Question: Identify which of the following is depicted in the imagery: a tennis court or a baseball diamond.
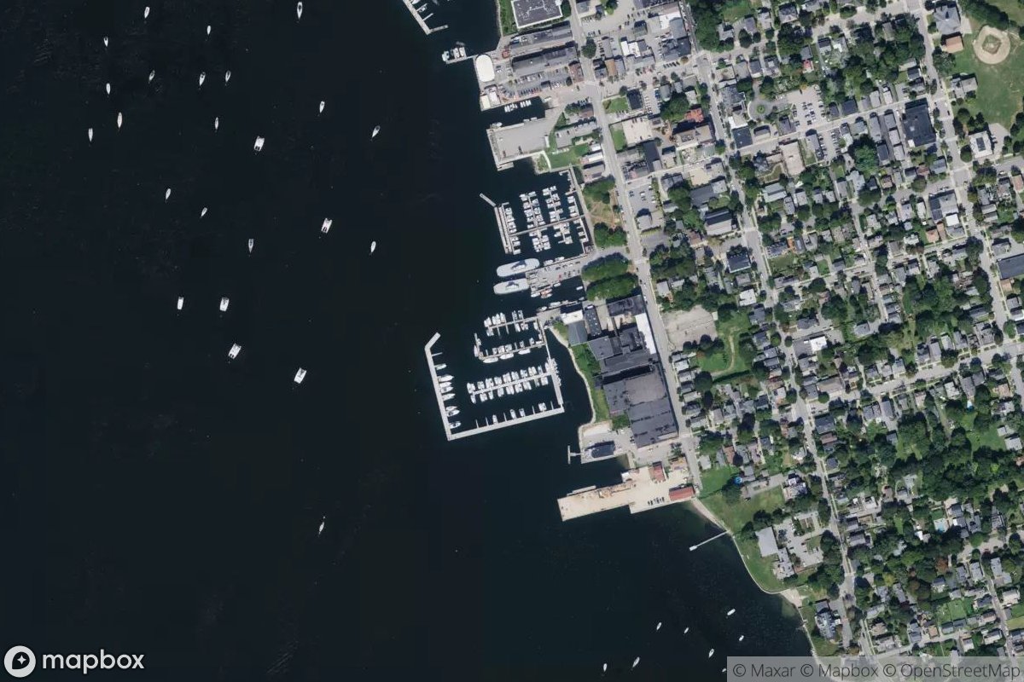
baseball diamond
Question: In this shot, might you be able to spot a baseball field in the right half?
Yes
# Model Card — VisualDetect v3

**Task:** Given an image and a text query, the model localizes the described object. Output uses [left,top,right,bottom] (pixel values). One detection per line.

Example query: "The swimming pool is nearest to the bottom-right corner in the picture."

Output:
[933,518,949,534]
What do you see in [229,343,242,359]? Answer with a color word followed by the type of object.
white boat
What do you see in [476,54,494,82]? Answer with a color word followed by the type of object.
white tent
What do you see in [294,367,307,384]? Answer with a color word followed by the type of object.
white boat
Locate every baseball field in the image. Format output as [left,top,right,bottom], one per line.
[971,25,1012,67]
